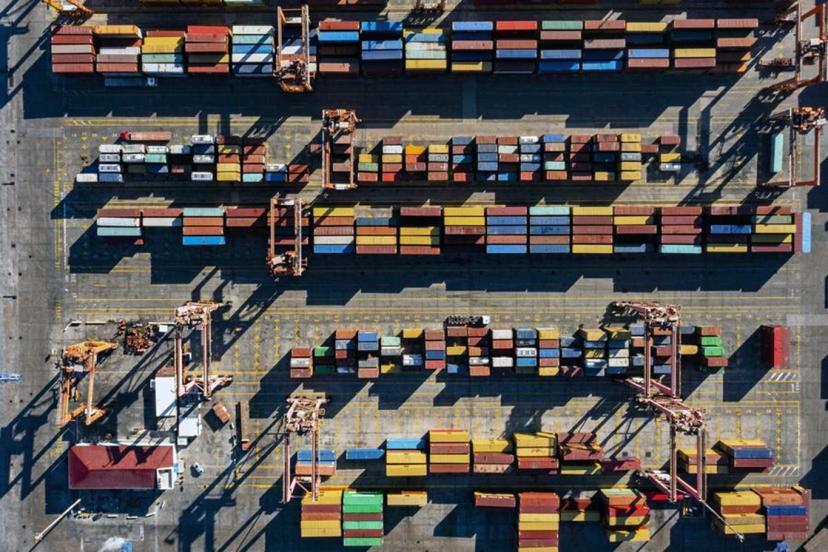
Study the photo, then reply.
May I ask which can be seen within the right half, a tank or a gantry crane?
gantry crane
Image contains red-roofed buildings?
Yes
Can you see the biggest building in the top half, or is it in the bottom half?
bottom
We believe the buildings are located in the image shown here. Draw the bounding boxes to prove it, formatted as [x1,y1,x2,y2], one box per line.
[67,438,182,491]
[179,415,203,436]
[151,375,180,416]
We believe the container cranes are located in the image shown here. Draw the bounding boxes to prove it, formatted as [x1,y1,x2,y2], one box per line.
[311,105,368,194]
[267,196,320,278]
[408,0,451,10]
[640,397,716,504]
[746,103,828,192]
[617,301,685,399]
[282,398,332,504]
[165,298,235,399]
[49,334,132,426]
[272,4,327,102]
